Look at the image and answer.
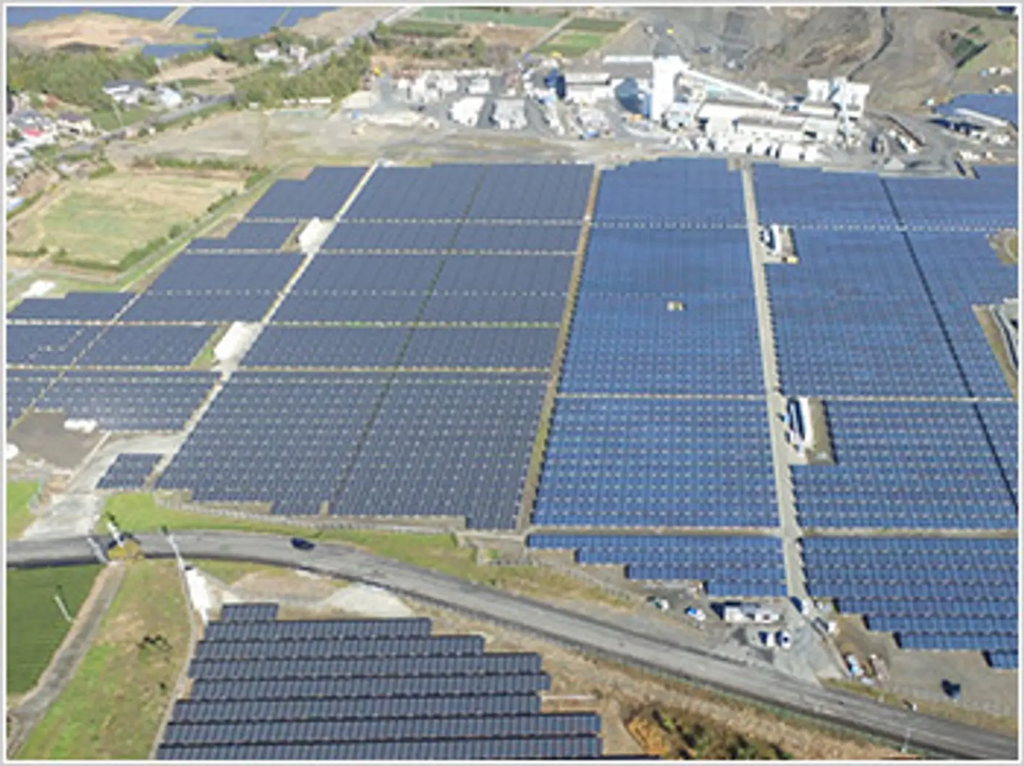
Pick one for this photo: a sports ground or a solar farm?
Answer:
solar farm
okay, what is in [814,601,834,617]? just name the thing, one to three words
car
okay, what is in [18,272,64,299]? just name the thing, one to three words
shed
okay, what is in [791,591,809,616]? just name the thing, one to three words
vehicle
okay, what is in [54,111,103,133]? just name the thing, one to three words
house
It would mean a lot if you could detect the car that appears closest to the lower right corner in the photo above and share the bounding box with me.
[941,679,965,702]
